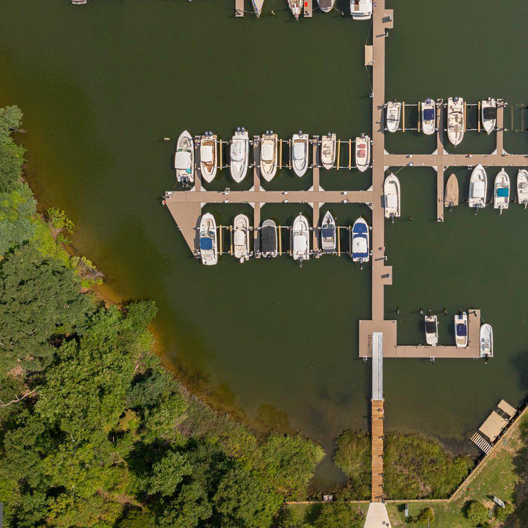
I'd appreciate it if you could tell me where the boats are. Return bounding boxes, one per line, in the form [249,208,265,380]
[201,131,217,182]
[292,213,310,270]
[261,219,278,261]
[292,130,309,177]
[173,130,195,191]
[384,175,401,228]
[261,130,278,182]
[200,213,218,265]
[421,98,436,135]
[350,0,372,22]
[516,170,528,213]
[230,130,249,182]
[286,0,302,21]
[355,126,370,172]
[481,96,497,135]
[448,94,464,149]
[386,98,401,133]
[494,169,510,218]
[321,210,336,252]
[317,0,335,13]
[321,131,336,170]
[445,174,459,215]
[425,304,438,345]
[232,214,250,261]
[454,312,468,348]
[468,165,488,217]
[479,324,493,366]
[352,217,369,270]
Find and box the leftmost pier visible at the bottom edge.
[370,398,384,503]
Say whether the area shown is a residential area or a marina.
marina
